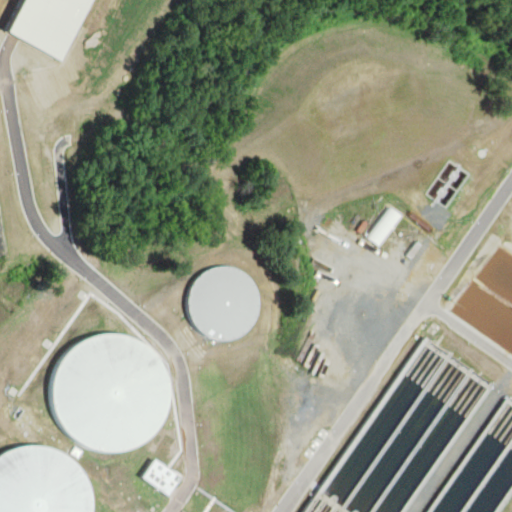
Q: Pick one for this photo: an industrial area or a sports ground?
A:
industrial area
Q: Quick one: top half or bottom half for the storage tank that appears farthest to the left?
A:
bottom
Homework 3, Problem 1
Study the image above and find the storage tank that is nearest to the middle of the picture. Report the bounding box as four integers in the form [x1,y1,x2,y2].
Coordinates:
[184,266,260,339]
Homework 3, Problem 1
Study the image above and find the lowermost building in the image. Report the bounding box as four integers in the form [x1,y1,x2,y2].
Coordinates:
[140,458,184,498]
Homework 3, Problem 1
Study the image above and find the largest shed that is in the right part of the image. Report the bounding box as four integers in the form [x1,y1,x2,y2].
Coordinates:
[364,206,403,248]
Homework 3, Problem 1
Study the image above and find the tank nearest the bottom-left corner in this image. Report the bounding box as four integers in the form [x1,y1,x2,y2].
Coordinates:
[0,444,96,512]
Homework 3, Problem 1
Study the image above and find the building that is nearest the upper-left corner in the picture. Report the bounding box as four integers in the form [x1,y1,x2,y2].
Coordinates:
[8,0,96,62]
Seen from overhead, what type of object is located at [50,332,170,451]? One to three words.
storage tank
